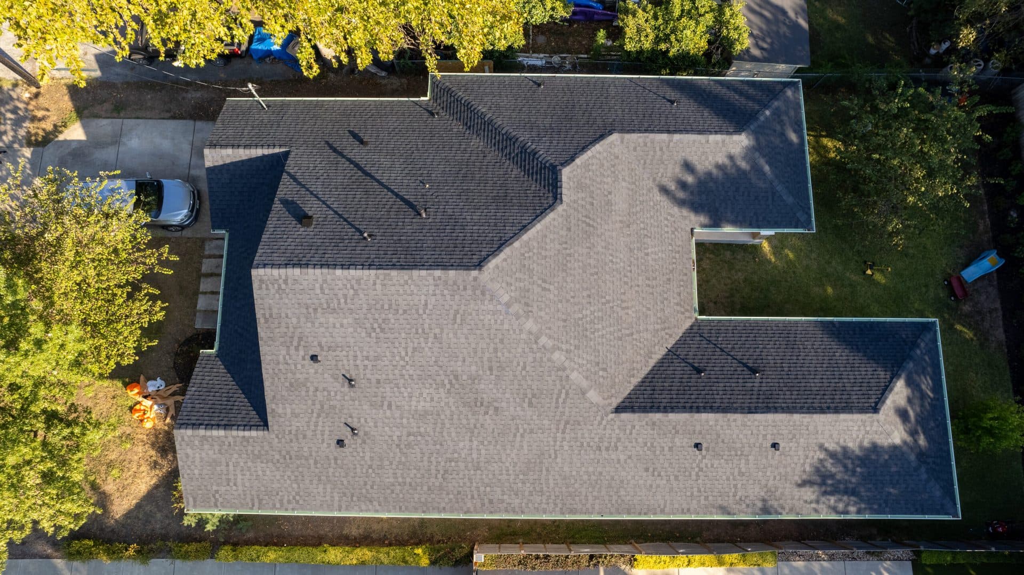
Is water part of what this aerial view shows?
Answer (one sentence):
No, no water is visible.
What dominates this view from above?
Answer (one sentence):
Most of the picture is covered by buildings.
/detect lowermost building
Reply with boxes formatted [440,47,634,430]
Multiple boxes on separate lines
[172,70,965,523]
